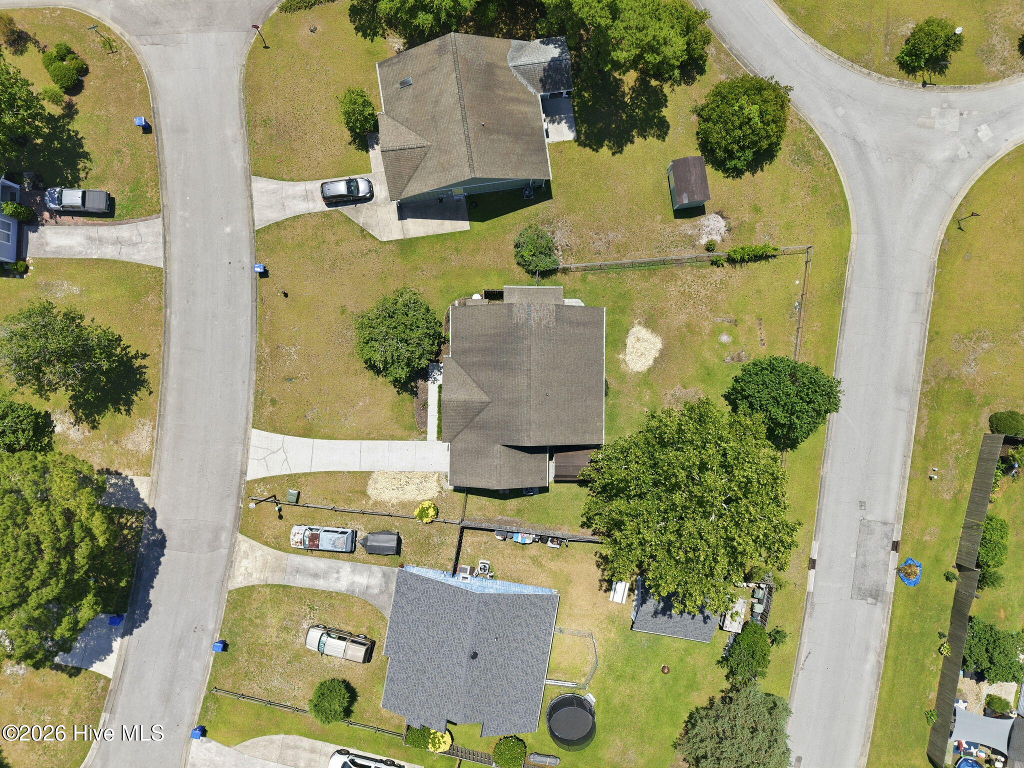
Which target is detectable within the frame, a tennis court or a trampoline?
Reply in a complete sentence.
The image shows a trampoline.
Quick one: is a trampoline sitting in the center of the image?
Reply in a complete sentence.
No, no trampoline appears in the center of the image.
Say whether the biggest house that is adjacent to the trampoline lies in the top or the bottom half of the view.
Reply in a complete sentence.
It is in the bottom half that the biggest house that is adjacent to the trampoline appears.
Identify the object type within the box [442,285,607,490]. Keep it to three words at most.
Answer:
house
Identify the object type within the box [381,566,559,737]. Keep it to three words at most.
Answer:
house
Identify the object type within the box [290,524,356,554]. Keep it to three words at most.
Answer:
car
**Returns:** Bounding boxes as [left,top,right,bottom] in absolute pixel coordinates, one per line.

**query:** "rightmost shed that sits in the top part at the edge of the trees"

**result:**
[668,156,710,210]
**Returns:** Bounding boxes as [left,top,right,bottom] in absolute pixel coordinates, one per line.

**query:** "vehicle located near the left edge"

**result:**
[45,185,116,214]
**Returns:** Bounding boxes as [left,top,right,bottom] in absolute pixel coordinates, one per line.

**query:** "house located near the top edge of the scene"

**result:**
[376,33,579,206]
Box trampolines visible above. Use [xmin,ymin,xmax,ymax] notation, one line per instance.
[545,691,598,754]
